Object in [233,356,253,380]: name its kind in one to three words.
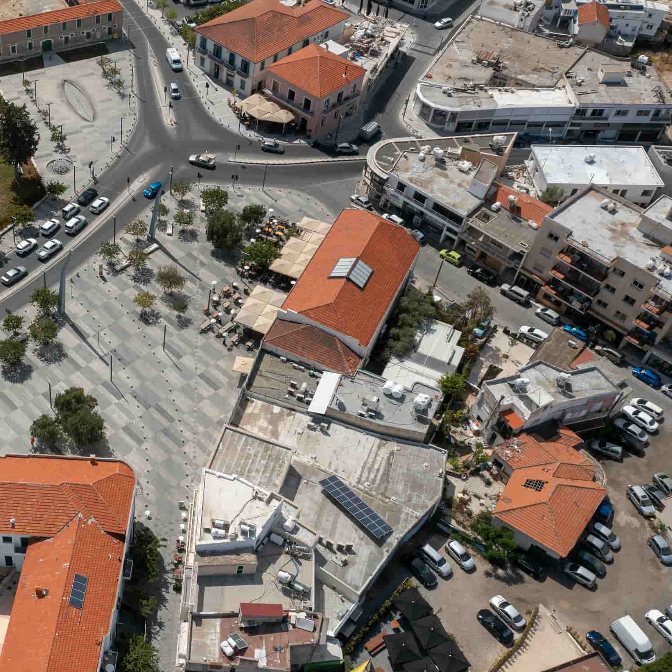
umbrella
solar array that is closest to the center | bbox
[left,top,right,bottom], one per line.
[317,476,393,542]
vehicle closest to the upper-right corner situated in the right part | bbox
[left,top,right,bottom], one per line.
[433,13,456,26]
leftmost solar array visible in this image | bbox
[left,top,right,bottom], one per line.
[68,573,88,610]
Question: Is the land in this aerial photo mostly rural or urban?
urban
